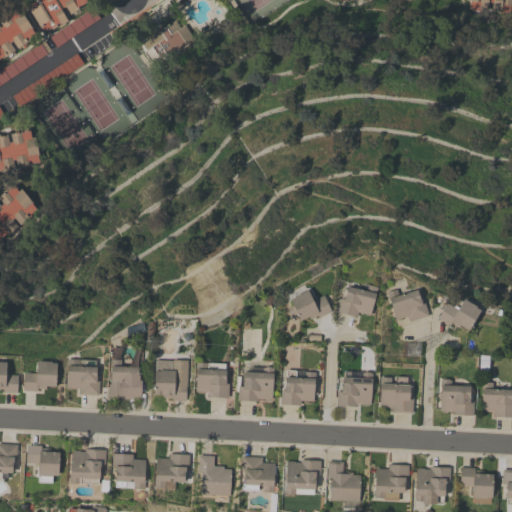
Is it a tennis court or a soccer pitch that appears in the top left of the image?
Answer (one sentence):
Looking in the top left of the image, you will find a tennis court.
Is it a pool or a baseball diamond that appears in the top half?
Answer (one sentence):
The feature located in the top half is a pool.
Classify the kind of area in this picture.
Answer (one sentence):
The area seen from above is a residential area.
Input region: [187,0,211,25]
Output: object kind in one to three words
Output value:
swimming pool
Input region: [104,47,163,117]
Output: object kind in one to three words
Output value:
tennis court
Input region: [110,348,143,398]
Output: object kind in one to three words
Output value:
house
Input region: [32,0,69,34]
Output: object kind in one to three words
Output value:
building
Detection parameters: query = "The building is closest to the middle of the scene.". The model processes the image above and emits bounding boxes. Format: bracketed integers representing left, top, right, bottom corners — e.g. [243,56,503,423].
[292,294,334,320]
